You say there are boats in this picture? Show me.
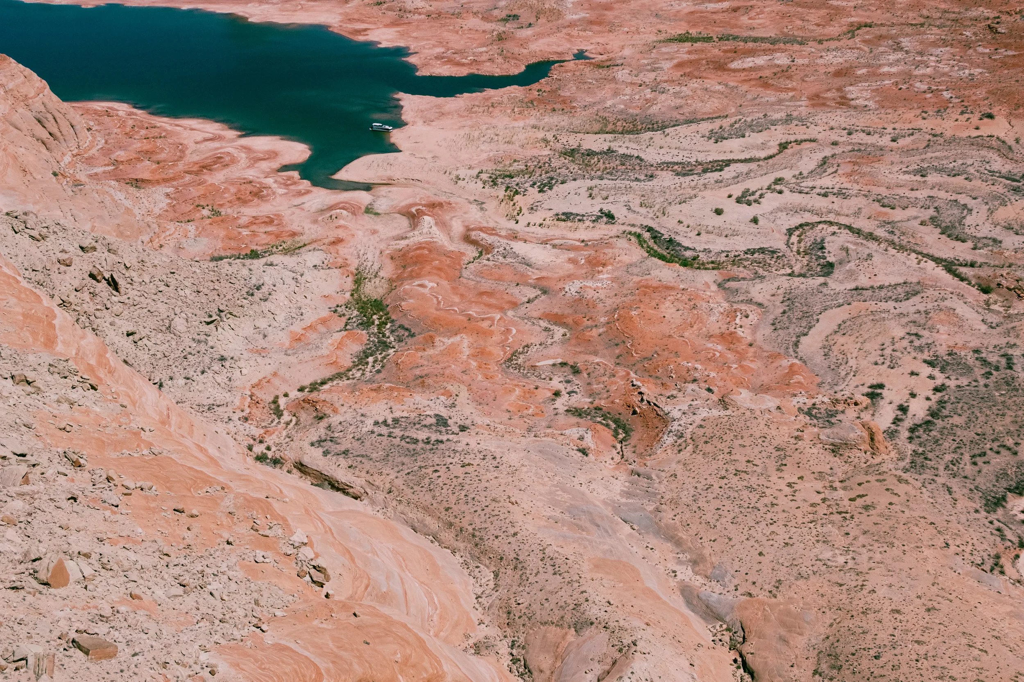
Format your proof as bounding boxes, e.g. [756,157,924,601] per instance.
[368,120,392,132]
